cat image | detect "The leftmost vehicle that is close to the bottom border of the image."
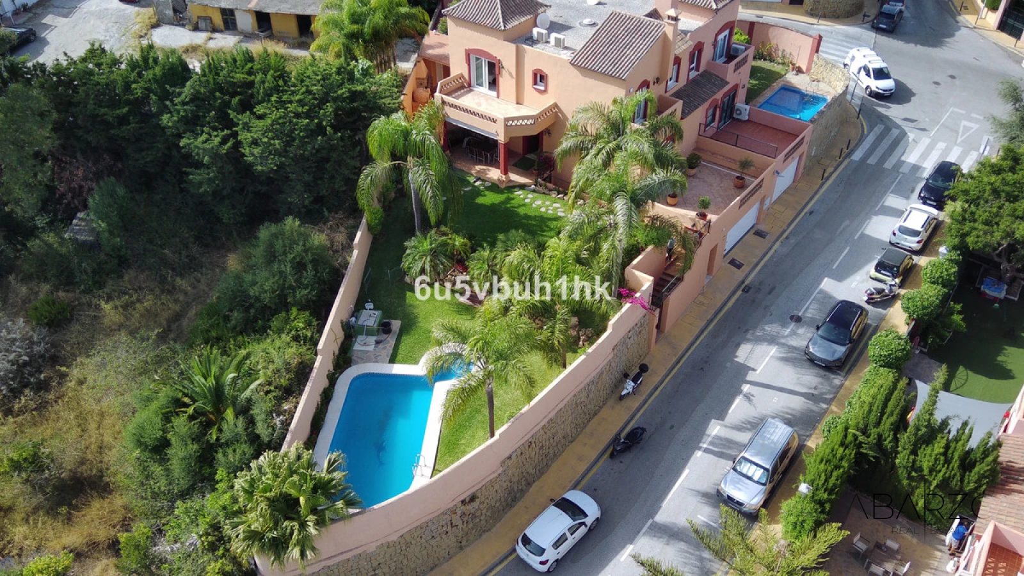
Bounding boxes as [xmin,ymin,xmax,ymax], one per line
[512,492,601,576]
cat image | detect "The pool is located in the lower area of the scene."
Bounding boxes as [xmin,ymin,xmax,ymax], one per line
[307,346,483,511]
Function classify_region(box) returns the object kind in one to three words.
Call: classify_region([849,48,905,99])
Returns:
van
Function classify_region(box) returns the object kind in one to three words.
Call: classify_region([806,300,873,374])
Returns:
car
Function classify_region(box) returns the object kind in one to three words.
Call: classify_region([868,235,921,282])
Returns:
car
